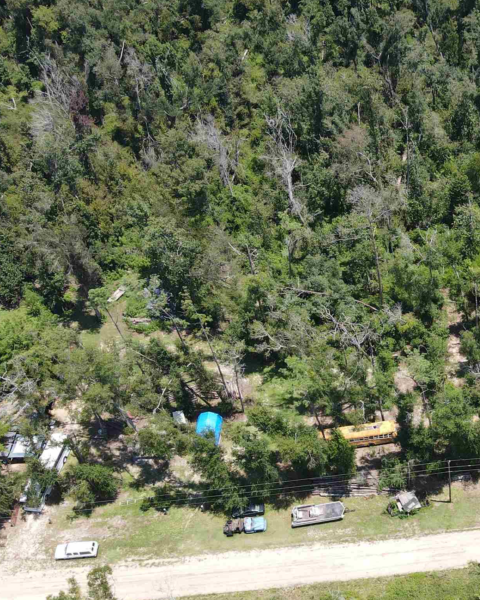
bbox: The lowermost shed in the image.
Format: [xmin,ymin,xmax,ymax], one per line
[389,490,425,521]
